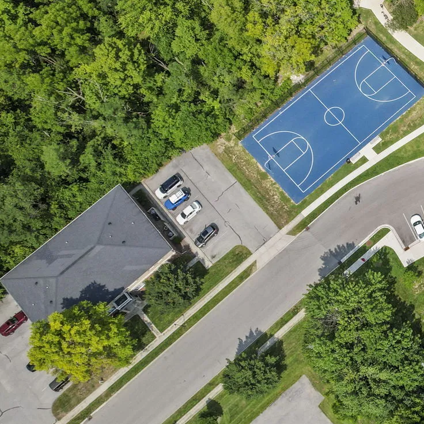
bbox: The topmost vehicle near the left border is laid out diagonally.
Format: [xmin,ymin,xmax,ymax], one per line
[0,310,25,335]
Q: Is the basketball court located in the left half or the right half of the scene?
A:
right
